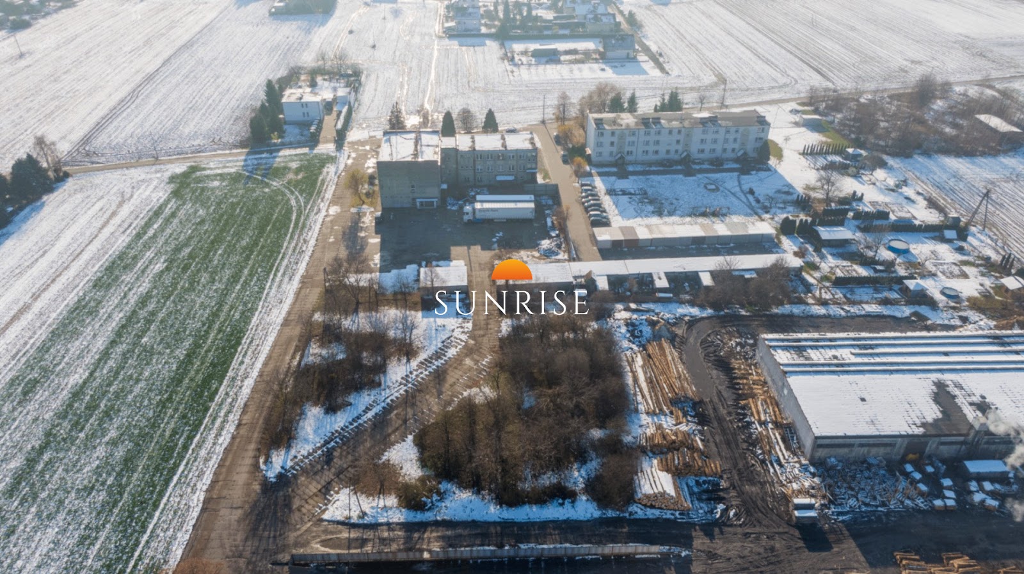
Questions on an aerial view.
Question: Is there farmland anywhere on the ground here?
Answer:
Yes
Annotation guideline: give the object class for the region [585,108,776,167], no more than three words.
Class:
building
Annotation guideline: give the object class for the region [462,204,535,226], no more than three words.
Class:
truck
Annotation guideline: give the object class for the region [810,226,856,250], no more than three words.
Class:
shed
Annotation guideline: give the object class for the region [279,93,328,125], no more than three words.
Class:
house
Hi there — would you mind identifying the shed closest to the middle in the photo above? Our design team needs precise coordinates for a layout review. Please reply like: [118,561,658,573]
[493,262,572,299]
